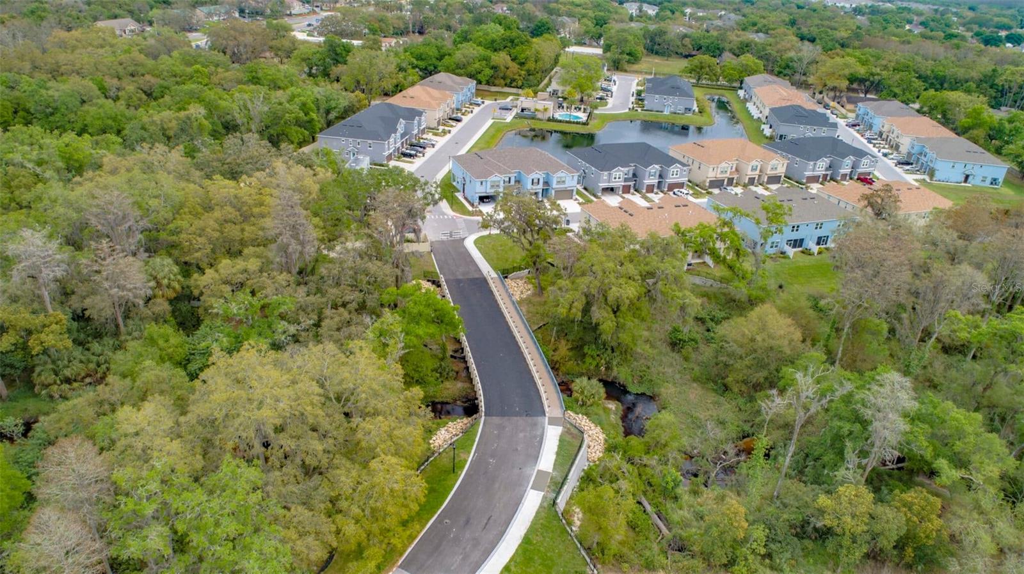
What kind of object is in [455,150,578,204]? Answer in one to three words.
house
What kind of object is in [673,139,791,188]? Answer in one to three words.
house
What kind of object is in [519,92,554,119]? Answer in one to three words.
building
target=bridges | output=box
[442,271,566,422]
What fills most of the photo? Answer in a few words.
trees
